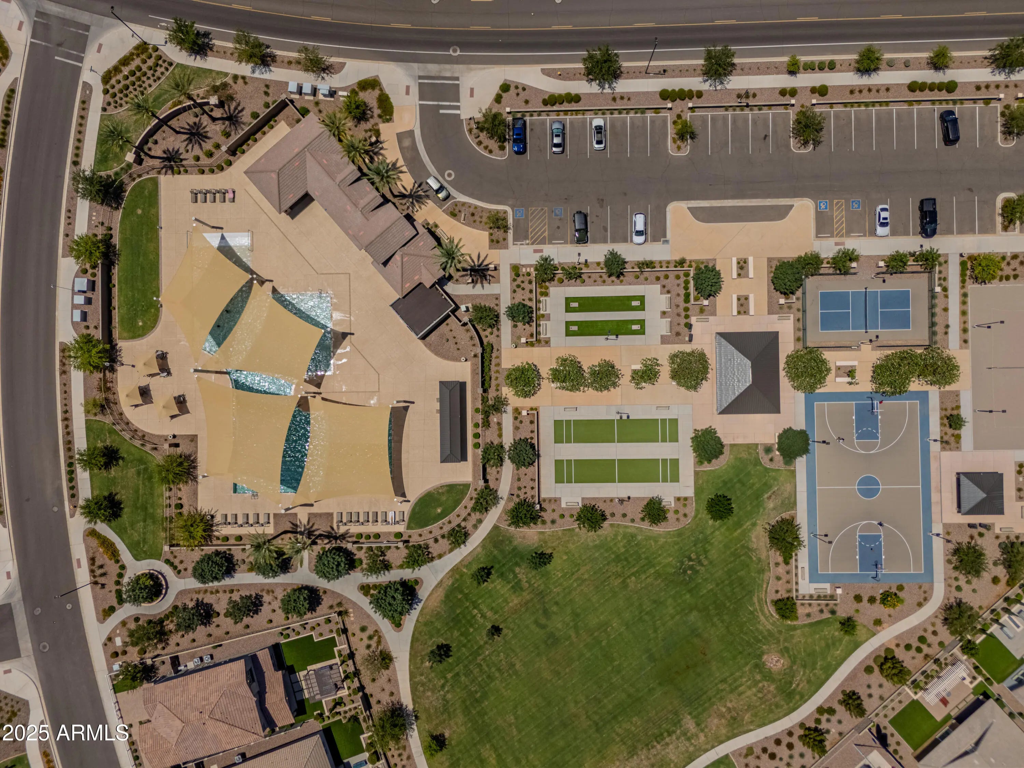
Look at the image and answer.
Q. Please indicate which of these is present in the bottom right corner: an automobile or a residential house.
residential house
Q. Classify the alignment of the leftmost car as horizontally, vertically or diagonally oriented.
diagonally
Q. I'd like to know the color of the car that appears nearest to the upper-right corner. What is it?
black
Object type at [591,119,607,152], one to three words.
car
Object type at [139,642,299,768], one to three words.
house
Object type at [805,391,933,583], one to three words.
basketball court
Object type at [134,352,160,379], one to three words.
umbrella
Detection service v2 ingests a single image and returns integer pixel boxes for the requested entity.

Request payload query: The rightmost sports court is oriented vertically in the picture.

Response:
[968,284,1024,451]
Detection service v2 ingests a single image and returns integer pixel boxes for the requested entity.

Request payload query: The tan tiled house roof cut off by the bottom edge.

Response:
[249,729,343,768]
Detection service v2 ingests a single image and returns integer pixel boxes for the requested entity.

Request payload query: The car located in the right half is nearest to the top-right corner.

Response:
[938,110,961,147]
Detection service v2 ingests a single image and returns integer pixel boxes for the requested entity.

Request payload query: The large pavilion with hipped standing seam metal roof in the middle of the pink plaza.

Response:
[712,331,781,414]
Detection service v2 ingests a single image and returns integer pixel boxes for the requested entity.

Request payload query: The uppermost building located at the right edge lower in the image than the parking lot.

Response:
[950,472,1005,515]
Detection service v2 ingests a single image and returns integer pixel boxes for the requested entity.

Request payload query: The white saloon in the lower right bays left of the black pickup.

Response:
[872,204,892,238]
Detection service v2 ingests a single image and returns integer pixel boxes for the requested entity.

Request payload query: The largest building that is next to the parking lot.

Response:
[243,112,445,298]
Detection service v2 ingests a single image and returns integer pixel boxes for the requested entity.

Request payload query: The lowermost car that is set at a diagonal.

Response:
[425,172,452,203]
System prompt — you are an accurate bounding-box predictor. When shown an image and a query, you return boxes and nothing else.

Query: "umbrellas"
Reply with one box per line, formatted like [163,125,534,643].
[151,394,179,419]
[117,383,142,408]
[134,352,160,379]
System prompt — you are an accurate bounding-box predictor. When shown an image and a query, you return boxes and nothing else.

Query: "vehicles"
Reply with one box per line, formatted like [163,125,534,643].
[511,117,528,156]
[573,210,589,244]
[917,197,940,239]
[872,204,892,238]
[938,110,961,147]
[550,122,566,155]
[631,213,647,246]
[591,119,607,152]
[425,172,452,203]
